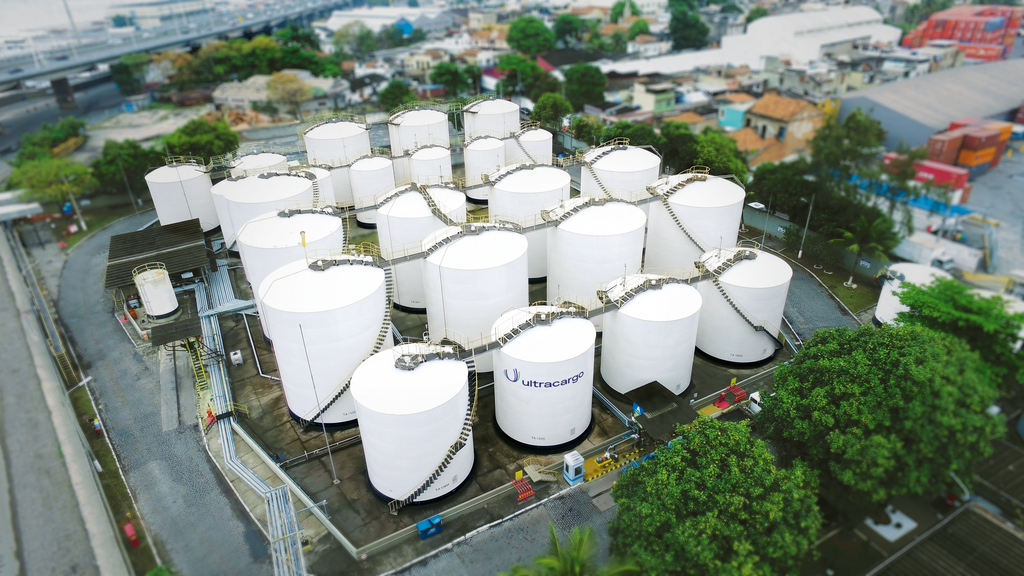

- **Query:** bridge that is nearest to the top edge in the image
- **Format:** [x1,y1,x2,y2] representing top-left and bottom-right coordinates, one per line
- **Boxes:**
[0,0,342,118]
